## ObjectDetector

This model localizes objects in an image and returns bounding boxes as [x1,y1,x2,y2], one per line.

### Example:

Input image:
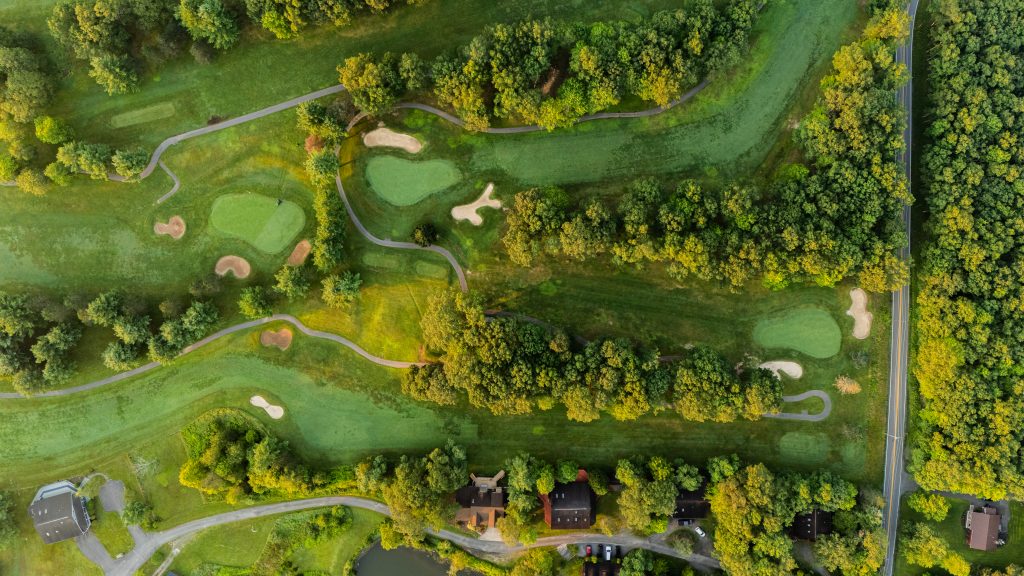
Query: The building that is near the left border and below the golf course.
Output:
[25,479,92,544]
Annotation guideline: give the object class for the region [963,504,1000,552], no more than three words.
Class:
house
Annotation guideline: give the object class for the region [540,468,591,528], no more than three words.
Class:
house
